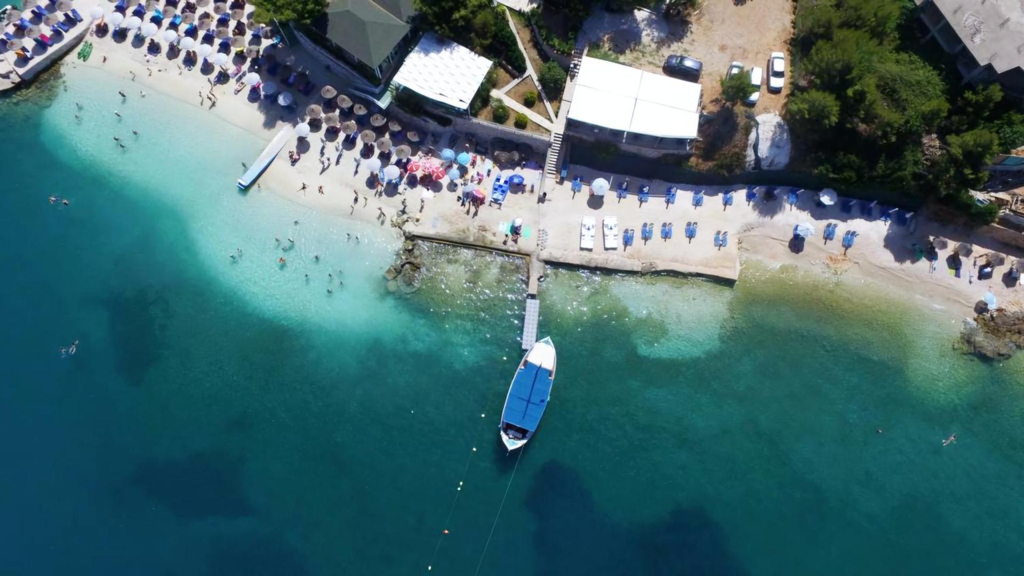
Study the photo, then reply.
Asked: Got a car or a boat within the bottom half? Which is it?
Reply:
boat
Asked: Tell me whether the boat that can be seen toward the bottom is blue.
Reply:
Yes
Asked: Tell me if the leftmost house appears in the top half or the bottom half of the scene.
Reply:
top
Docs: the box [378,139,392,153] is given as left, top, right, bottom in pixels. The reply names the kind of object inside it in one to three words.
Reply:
umbrella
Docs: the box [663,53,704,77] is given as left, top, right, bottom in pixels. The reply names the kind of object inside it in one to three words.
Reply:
car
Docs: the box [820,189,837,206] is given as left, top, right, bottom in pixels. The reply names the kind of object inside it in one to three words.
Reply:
umbrella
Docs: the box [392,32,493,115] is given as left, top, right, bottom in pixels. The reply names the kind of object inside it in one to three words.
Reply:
building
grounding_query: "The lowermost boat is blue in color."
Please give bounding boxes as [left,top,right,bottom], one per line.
[500,337,554,453]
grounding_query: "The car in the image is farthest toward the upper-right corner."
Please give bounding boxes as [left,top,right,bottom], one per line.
[767,54,784,91]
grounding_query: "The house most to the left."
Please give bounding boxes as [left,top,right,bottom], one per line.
[326,0,415,80]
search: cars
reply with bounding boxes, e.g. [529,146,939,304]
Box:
[725,62,747,95]
[745,66,764,104]
[767,54,784,91]
[663,53,704,77]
